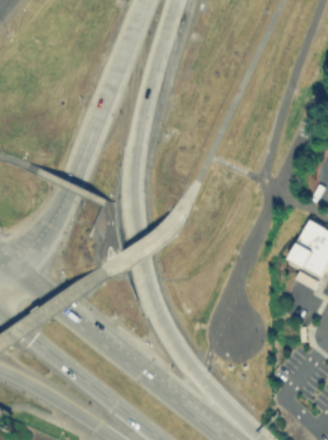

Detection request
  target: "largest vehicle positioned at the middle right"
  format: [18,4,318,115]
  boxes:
[312,183,325,202]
